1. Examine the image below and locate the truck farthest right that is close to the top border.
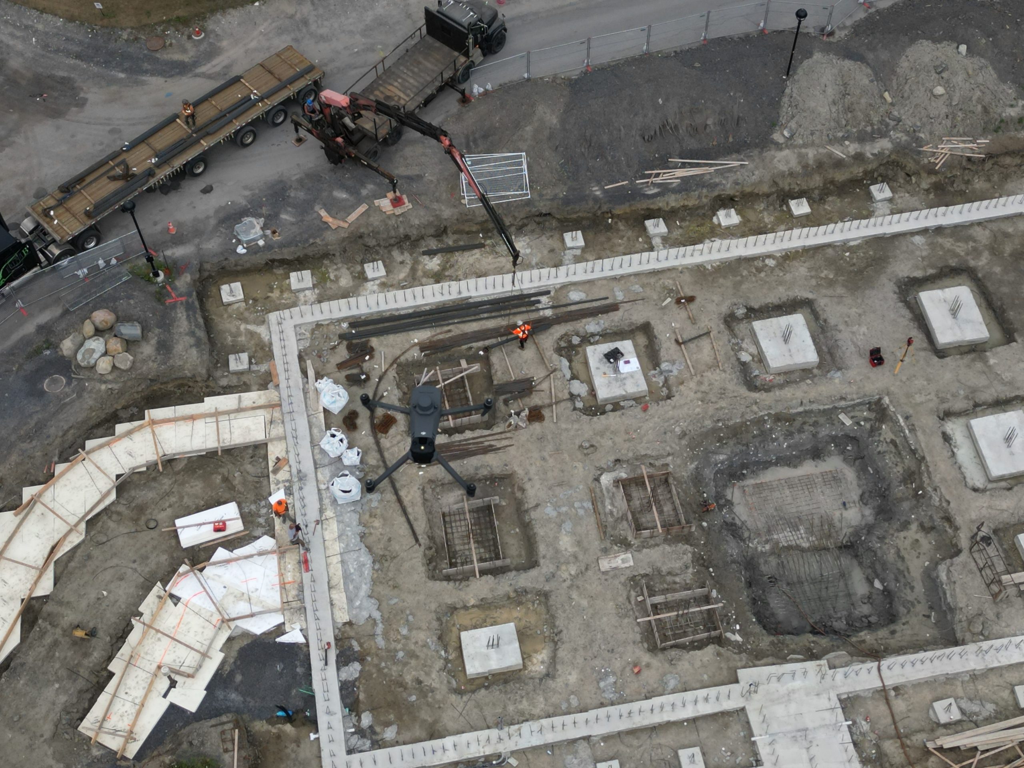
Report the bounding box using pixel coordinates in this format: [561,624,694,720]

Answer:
[294,0,524,287]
